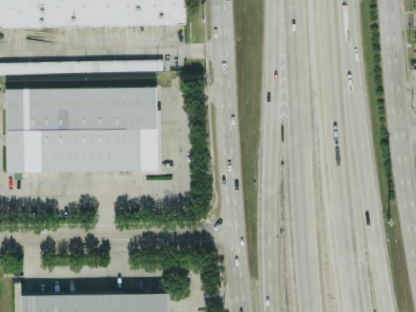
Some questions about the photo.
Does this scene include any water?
No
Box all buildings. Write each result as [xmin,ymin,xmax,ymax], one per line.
[0,0,186,28]
[22,294,169,312]
[0,60,164,75]
[5,88,161,174]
